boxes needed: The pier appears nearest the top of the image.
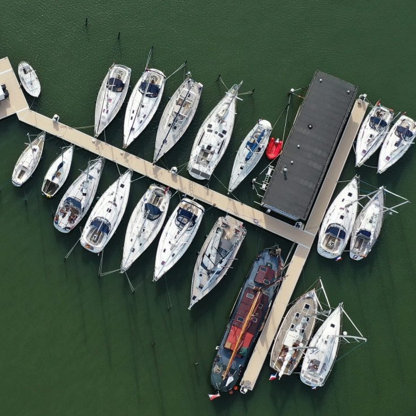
[303,99,369,233]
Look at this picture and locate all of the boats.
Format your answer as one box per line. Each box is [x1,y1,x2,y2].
[353,97,402,168]
[153,71,205,165]
[315,177,383,265]
[153,195,214,307]
[69,171,142,270]
[122,49,186,149]
[376,107,416,175]
[13,130,55,187]
[103,183,170,291]
[54,155,104,234]
[186,210,247,314]
[182,75,254,187]
[271,278,333,383]
[19,61,40,99]
[227,110,285,194]
[266,136,285,160]
[43,144,77,199]
[347,186,410,264]
[296,304,368,393]
[71,59,130,142]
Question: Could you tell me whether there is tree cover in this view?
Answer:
No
